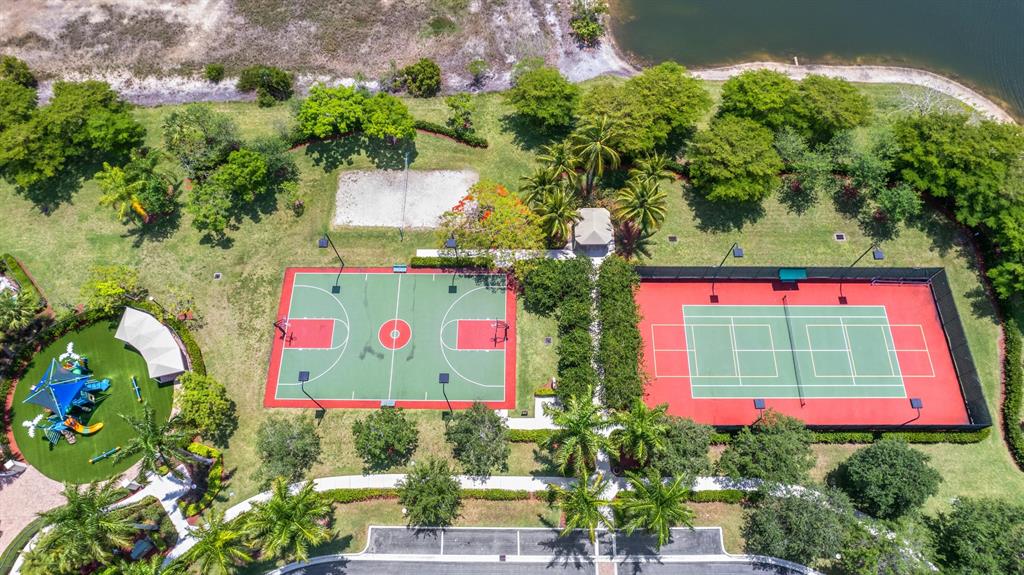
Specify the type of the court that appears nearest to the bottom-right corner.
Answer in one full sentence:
It looks like the court that appears nearest to the bottom-right corner is a tennis court.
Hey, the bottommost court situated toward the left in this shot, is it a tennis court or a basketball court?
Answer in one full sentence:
From above, the bottommost court situated toward the left can be identified as a basketball court.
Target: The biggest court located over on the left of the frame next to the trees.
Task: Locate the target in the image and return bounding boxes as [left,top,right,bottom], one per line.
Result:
[264,266,516,410]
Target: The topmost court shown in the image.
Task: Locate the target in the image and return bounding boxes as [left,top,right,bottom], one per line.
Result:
[333,169,479,229]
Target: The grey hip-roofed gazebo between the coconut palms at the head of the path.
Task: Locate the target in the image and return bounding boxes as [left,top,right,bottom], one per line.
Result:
[576,207,614,256]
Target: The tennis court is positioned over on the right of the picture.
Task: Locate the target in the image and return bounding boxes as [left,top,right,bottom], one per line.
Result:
[630,279,970,426]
